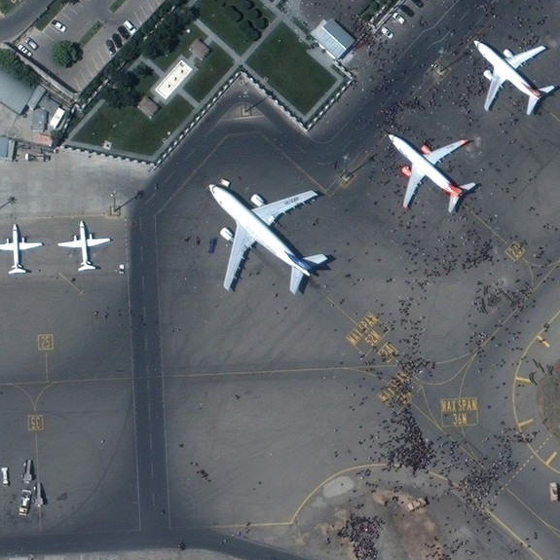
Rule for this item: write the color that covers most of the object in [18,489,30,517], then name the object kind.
white vehicle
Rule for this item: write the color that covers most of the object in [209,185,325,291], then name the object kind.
white airplane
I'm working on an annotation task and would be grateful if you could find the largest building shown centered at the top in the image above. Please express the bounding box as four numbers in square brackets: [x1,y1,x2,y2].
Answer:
[313,19,356,61]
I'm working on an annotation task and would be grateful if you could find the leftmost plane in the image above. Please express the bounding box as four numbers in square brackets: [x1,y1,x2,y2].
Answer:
[0,225,42,272]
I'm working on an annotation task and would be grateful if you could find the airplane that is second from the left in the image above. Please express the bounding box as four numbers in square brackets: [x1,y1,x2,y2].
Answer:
[58,222,110,269]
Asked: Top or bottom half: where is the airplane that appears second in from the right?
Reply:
top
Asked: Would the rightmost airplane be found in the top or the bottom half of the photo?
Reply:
top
